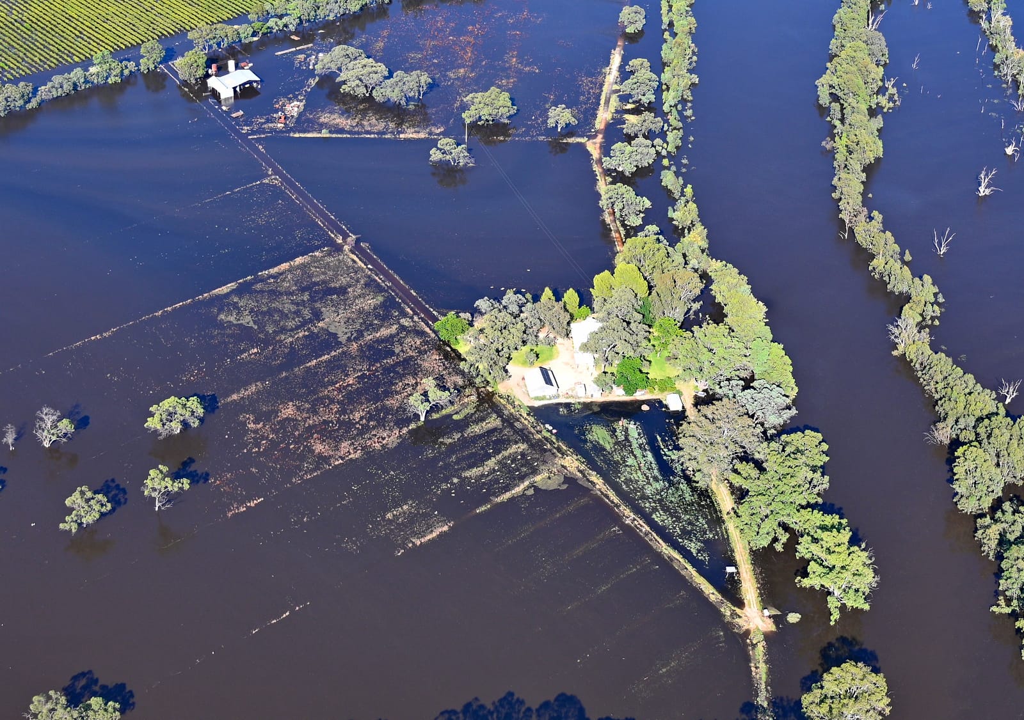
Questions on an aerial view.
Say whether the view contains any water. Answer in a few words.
Yes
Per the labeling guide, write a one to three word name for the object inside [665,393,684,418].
shed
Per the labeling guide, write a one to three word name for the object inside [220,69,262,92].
shed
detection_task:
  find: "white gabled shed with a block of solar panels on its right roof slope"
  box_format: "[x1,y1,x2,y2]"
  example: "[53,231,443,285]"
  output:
[523,367,559,400]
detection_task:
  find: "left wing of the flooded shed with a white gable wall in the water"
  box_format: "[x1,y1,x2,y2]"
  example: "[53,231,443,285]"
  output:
[205,76,235,98]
